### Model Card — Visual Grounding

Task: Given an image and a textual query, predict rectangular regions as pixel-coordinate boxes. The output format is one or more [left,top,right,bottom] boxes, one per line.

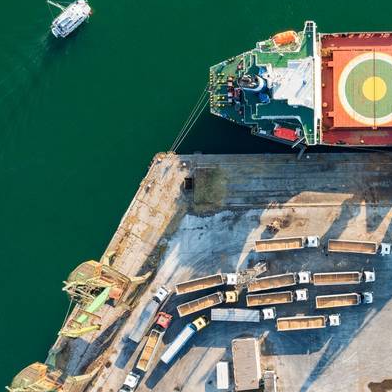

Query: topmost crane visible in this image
[57,248,157,336]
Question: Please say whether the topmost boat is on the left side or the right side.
left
